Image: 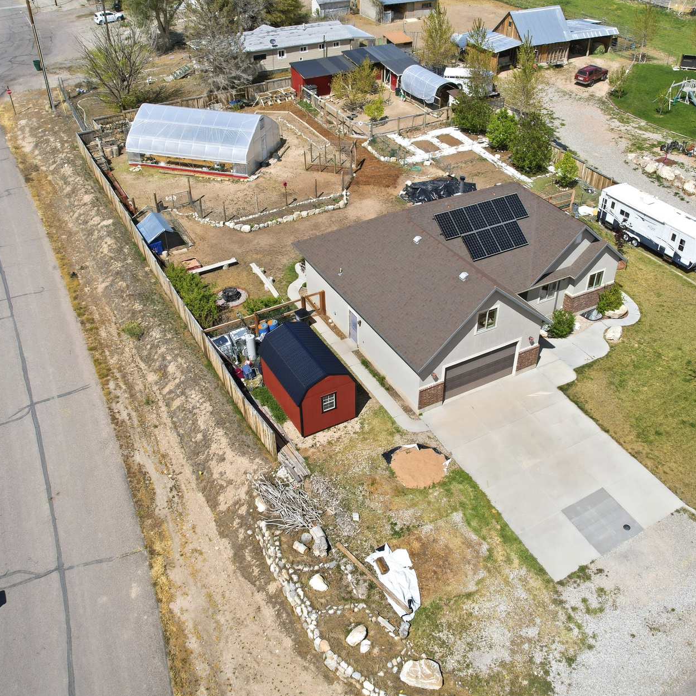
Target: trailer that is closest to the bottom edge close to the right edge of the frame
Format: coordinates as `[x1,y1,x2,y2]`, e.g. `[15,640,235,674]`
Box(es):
[599,185,696,273]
